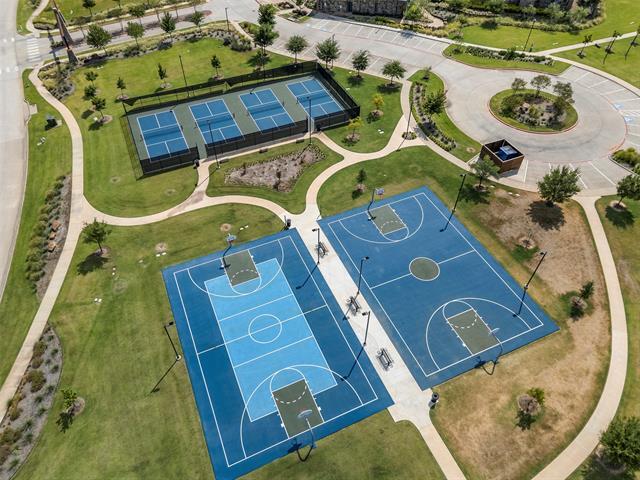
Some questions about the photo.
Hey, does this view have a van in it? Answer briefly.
No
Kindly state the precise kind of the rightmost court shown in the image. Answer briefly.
basketball court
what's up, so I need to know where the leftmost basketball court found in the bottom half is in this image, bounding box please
[162,227,396,480]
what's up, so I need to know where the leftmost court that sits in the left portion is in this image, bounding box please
[138,110,188,157]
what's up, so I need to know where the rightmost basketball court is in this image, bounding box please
[319,185,559,390]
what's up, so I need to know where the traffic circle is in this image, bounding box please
[489,88,578,134]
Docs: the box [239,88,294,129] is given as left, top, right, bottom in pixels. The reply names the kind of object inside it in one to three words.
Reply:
sports court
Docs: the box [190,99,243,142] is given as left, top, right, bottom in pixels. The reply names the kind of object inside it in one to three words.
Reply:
sports court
